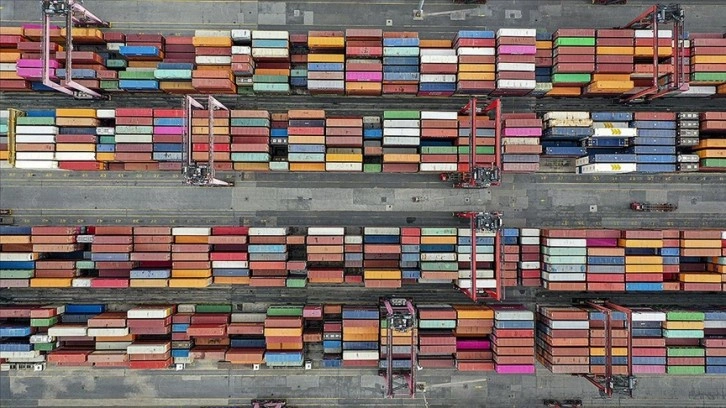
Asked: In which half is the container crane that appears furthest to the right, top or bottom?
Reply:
top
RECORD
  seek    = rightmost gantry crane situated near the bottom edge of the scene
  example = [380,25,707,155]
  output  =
[569,299,639,399]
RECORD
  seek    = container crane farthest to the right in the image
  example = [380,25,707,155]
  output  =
[611,1,688,104]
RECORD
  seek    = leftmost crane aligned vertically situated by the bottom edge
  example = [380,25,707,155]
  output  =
[377,299,420,399]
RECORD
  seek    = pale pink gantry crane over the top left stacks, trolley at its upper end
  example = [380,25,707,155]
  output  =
[37,0,113,99]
